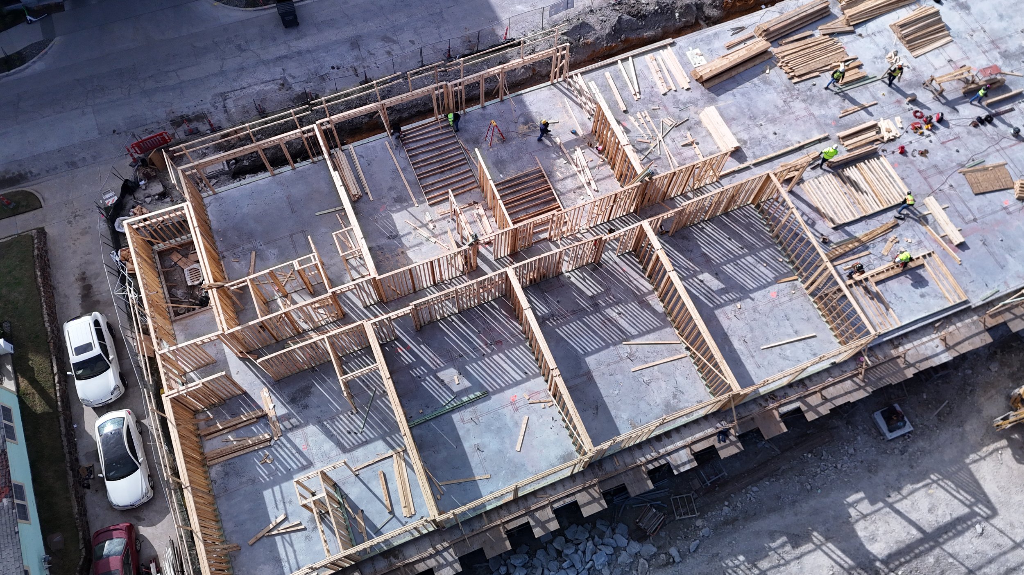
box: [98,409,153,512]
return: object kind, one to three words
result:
car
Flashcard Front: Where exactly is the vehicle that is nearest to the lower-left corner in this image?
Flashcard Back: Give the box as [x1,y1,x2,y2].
[97,521,149,575]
